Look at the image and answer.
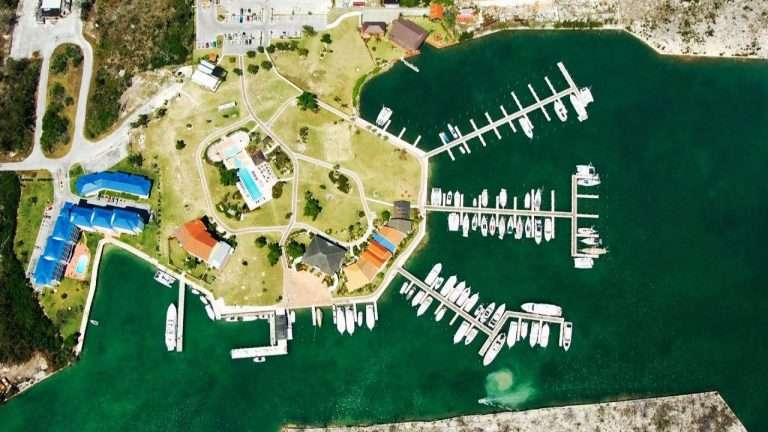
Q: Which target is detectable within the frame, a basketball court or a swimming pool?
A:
swimming pool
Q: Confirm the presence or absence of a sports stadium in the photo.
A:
No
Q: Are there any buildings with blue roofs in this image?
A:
Yes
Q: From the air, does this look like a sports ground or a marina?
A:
marina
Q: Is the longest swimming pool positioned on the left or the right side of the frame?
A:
left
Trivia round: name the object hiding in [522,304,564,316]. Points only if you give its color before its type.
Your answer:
white boat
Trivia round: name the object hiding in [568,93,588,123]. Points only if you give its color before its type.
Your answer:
white boat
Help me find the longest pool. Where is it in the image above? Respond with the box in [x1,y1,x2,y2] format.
[238,167,262,200]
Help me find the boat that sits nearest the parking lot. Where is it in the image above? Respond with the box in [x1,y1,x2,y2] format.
[376,106,391,127]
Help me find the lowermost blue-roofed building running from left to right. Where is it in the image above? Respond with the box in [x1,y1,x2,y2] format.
[69,206,146,235]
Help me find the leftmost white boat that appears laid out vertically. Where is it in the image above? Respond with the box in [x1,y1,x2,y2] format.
[163,303,176,352]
